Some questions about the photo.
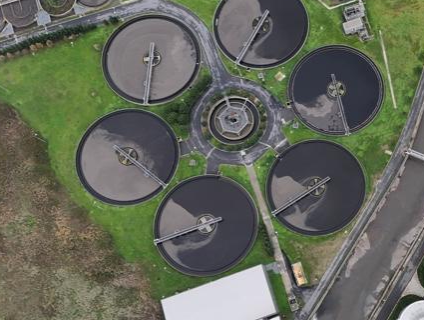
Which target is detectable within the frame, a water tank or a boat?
water tank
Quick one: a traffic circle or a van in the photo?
traffic circle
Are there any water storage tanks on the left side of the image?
Yes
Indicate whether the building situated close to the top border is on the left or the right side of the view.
right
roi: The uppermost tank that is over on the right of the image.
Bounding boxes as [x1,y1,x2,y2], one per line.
[213,0,309,69]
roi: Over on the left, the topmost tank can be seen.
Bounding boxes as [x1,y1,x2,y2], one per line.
[102,14,201,107]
